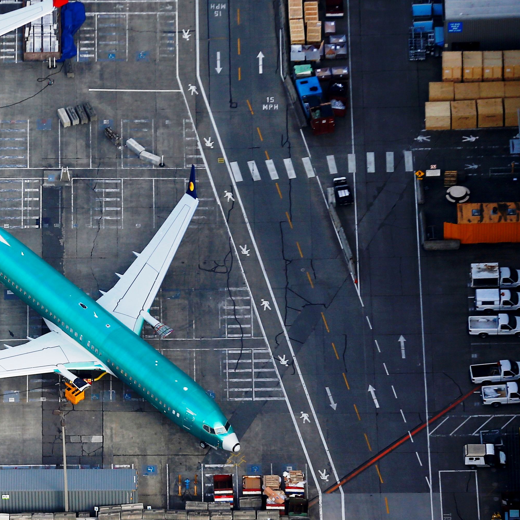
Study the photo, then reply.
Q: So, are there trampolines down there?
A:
No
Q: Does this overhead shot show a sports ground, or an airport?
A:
airport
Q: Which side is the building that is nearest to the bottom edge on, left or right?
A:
right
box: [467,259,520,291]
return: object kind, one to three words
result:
truck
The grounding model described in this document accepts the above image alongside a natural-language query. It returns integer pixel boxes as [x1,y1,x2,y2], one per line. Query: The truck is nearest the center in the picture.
[330,171,359,209]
